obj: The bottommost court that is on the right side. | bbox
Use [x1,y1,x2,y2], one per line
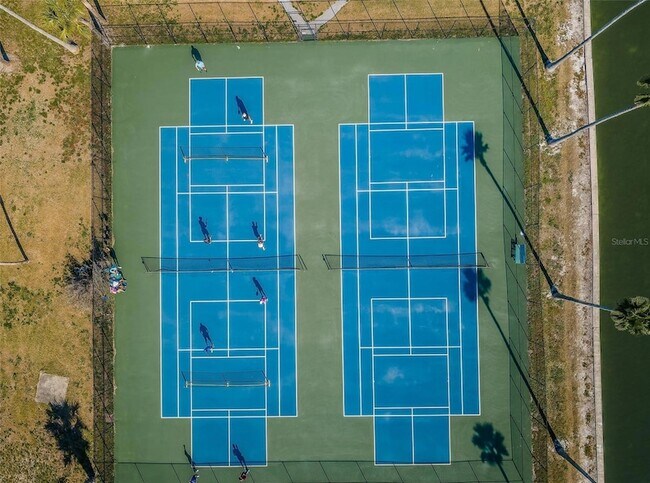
[372,298,451,466]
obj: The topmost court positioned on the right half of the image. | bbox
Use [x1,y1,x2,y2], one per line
[368,74,447,239]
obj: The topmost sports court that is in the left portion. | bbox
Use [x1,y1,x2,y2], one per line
[189,77,265,242]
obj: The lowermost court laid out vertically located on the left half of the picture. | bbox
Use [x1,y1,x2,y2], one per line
[190,300,268,467]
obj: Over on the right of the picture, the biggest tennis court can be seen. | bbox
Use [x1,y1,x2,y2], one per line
[339,121,481,416]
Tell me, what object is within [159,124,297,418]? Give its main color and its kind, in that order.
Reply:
blue tennis court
